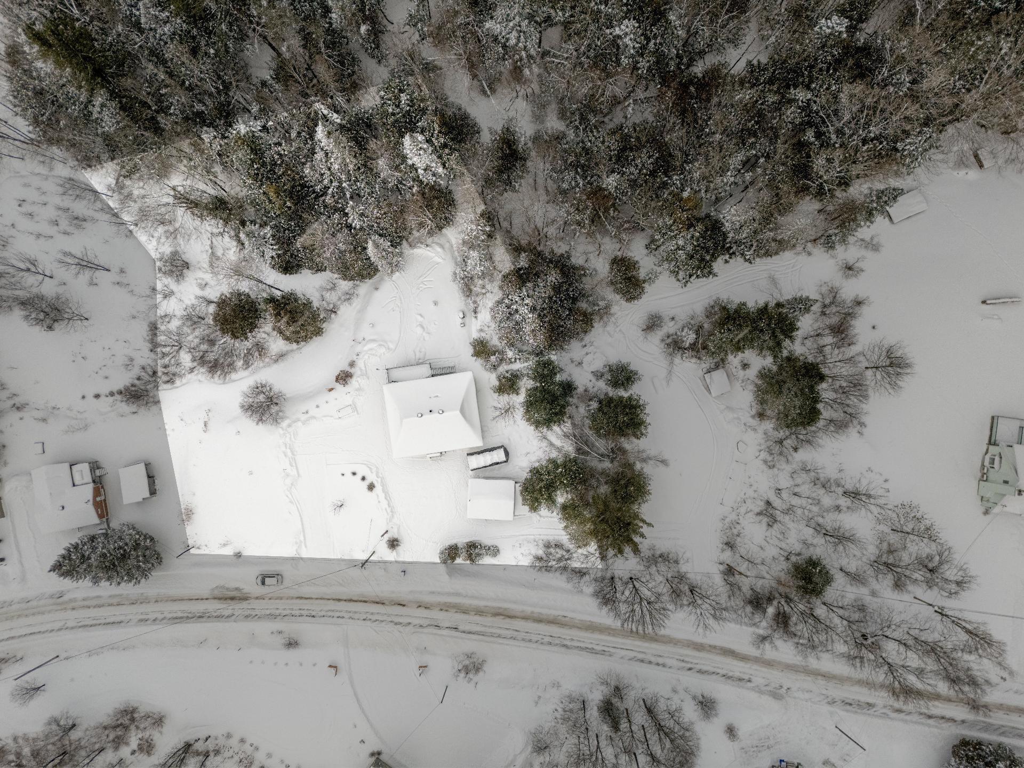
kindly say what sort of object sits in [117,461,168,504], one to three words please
shed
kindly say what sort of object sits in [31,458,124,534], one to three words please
house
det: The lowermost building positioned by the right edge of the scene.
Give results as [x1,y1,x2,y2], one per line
[970,416,1024,516]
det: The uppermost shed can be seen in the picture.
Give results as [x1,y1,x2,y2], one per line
[884,190,927,225]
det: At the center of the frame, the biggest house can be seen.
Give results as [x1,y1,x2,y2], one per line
[384,362,483,458]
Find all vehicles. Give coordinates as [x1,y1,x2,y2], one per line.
[255,574,281,587]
